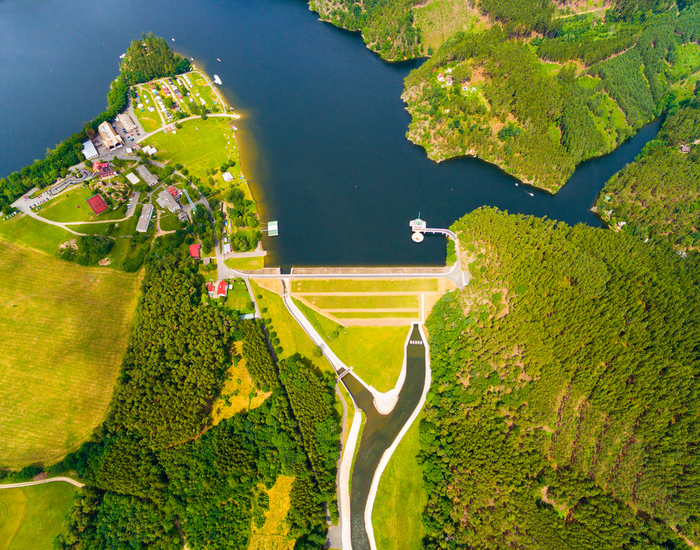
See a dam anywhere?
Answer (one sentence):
Yes, this view includes a dam.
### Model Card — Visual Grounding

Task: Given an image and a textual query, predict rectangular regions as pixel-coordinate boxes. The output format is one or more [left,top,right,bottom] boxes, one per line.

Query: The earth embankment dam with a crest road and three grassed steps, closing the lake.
[231,265,456,327]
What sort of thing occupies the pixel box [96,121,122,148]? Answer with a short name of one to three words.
building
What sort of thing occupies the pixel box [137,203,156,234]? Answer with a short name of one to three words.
building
